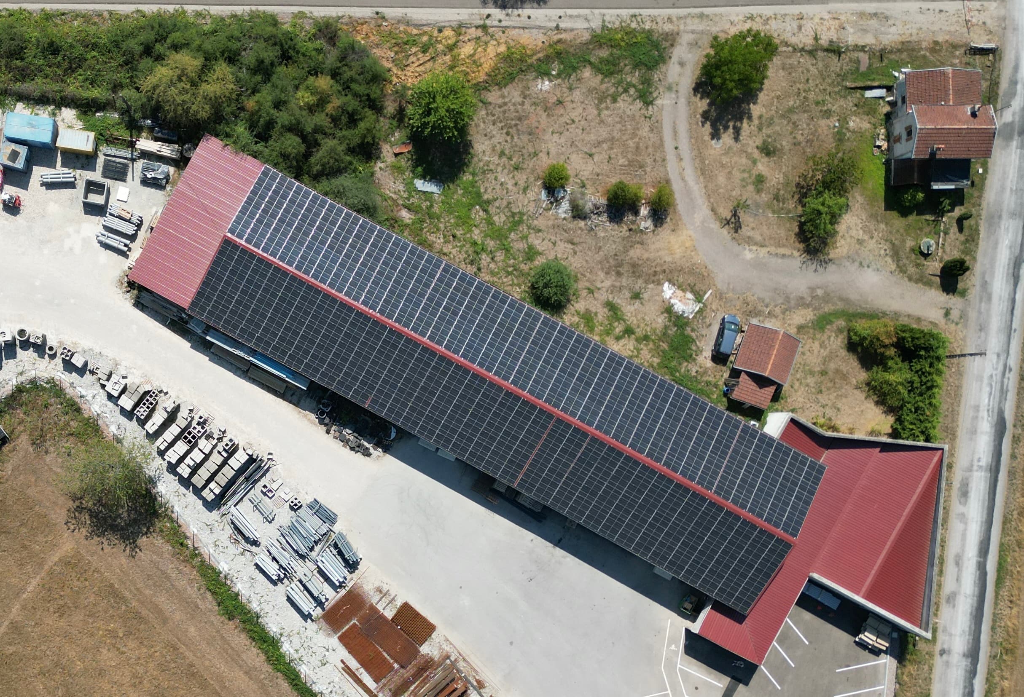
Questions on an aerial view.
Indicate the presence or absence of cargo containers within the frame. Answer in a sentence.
Yes, a cargo container appears in the view.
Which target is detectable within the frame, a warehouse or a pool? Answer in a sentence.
Visible in the photo is a warehouse.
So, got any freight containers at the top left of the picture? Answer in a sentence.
Yes, I can see a freight container at the top left of the picture.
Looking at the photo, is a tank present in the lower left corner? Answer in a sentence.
No, there is no tank in the lower left corner.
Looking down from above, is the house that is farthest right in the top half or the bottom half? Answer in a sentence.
The house that is farthest right is in the top half of the image.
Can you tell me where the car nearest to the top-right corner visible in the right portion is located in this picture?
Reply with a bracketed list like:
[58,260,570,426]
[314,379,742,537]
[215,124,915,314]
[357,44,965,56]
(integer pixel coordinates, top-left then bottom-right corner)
[711,315,741,359]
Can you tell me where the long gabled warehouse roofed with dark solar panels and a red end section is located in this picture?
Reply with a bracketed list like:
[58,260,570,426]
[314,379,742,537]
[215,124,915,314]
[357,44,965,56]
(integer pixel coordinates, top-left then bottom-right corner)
[128,134,829,616]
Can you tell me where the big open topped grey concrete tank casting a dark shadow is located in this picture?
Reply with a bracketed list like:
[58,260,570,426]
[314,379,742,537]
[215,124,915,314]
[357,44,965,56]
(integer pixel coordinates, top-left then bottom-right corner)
[81,178,110,208]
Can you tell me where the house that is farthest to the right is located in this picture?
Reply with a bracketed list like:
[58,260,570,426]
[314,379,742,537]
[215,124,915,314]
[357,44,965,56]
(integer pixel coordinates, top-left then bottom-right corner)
[881,67,998,192]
